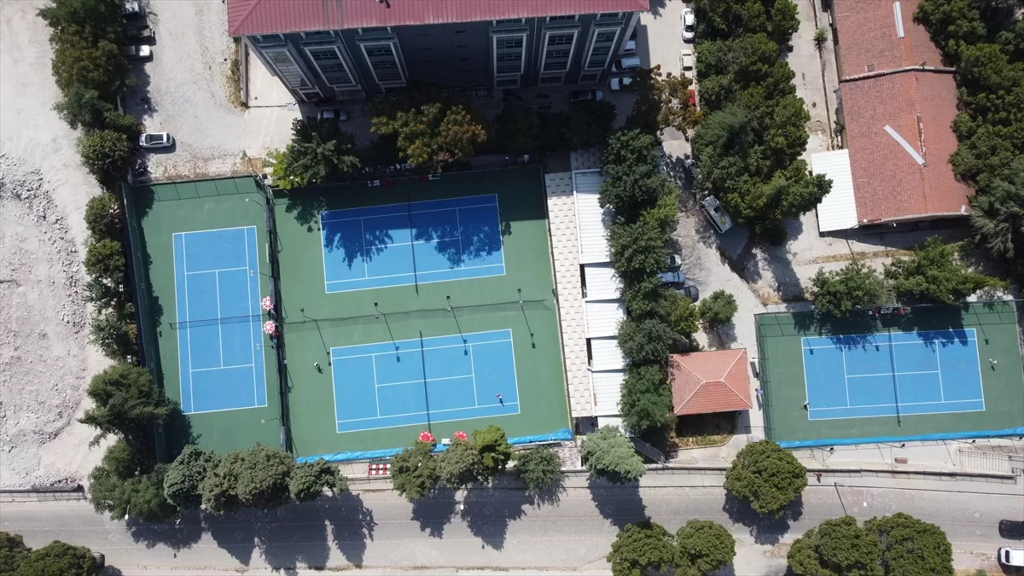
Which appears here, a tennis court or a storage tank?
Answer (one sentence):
The image shows a tennis court.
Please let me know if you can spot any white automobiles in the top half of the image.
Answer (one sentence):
Yes, a white automobile appears in the top half of the image.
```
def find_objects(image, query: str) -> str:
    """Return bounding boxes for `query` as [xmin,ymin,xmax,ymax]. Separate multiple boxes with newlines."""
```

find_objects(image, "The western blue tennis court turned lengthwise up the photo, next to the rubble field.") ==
[134,177,292,464]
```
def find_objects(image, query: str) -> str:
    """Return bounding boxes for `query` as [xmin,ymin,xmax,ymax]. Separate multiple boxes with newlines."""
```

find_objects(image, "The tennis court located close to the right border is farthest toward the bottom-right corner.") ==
[755,301,1024,443]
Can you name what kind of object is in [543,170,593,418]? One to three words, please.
building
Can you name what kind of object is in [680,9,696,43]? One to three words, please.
car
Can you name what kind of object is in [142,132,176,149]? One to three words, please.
car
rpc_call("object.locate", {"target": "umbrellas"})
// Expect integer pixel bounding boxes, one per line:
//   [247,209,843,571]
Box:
[262,297,275,309]
[265,321,278,333]
[454,429,468,438]
[419,430,434,445]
